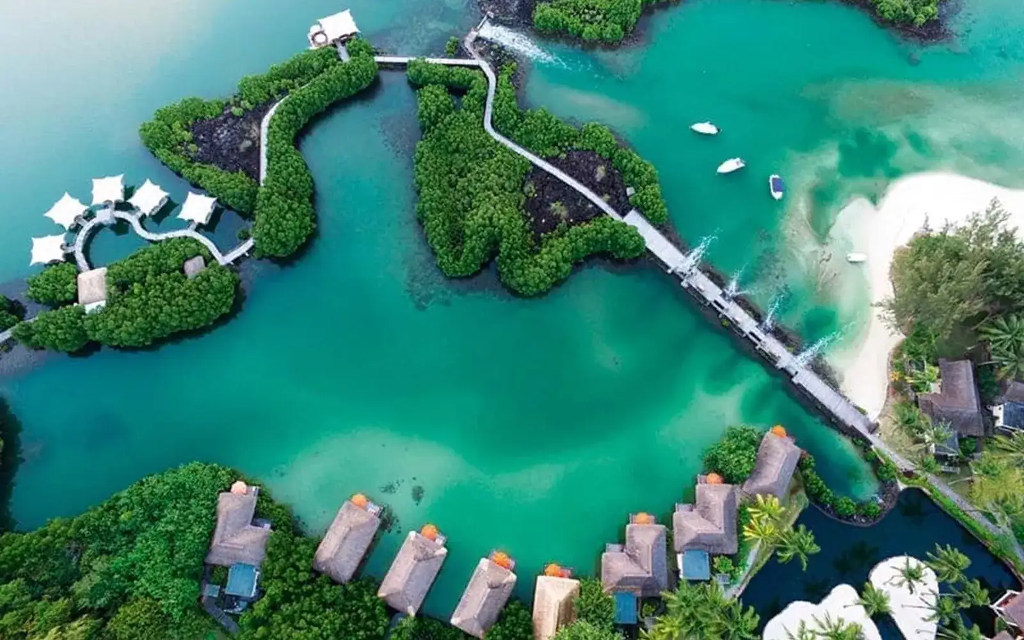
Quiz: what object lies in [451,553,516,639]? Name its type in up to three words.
house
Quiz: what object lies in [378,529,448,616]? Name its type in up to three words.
house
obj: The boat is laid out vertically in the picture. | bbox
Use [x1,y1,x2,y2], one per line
[769,172,783,200]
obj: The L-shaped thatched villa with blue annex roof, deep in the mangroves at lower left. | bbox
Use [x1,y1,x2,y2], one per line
[204,485,271,598]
